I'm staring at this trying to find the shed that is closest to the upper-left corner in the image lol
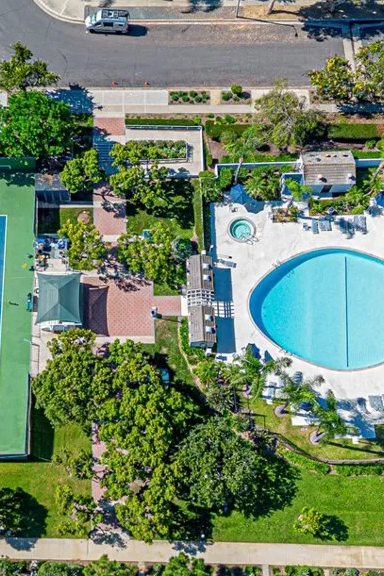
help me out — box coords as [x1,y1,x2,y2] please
[35,173,71,198]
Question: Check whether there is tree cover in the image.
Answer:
Yes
